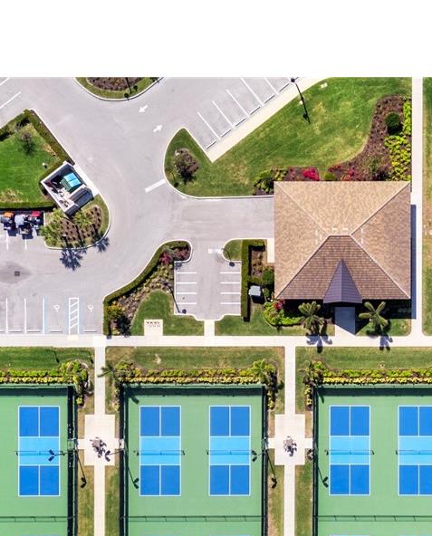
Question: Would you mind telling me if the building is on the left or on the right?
right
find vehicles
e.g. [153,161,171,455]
[0,213,15,231]
[28,211,42,230]
[14,214,28,231]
